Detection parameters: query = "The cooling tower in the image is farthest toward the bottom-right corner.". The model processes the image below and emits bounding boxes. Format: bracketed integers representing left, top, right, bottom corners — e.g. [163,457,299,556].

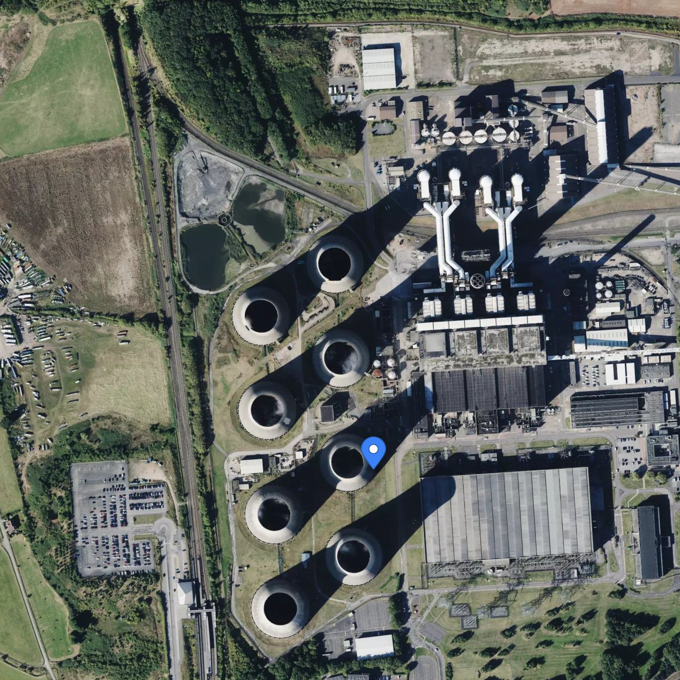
[324,526,384,588]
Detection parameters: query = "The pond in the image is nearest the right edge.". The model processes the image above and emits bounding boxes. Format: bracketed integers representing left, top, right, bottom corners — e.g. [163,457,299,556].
[234,183,284,248]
